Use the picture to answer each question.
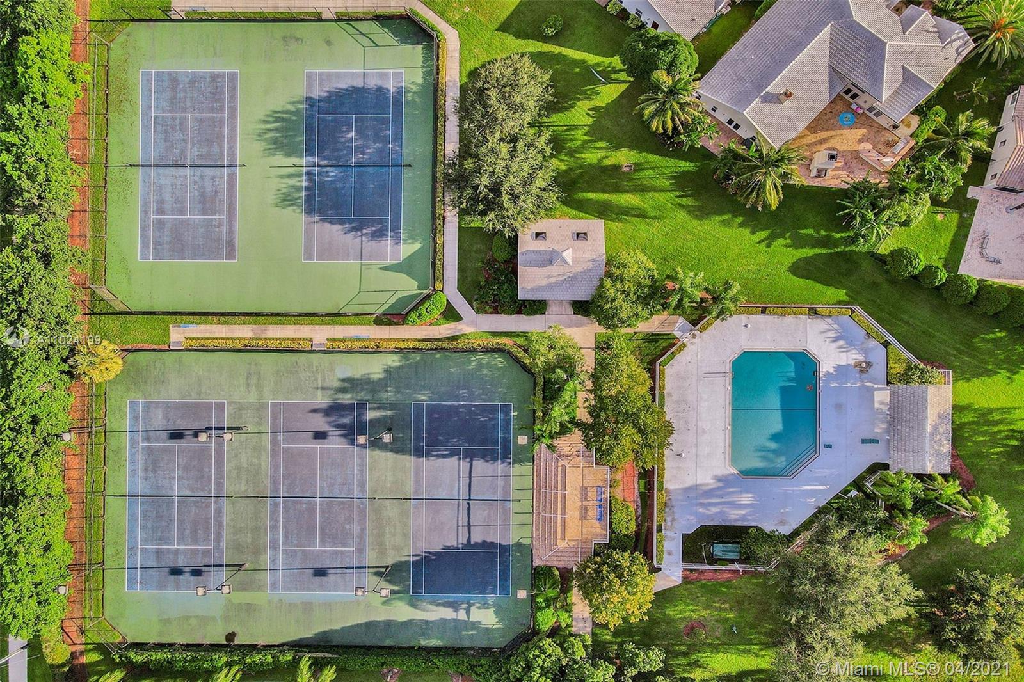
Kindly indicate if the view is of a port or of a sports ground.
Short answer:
sports ground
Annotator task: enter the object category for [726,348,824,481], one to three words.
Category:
swimming pool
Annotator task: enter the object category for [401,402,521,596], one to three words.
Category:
tennis court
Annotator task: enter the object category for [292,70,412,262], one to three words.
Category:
tennis court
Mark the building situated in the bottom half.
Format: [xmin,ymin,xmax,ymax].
[882,384,954,475]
